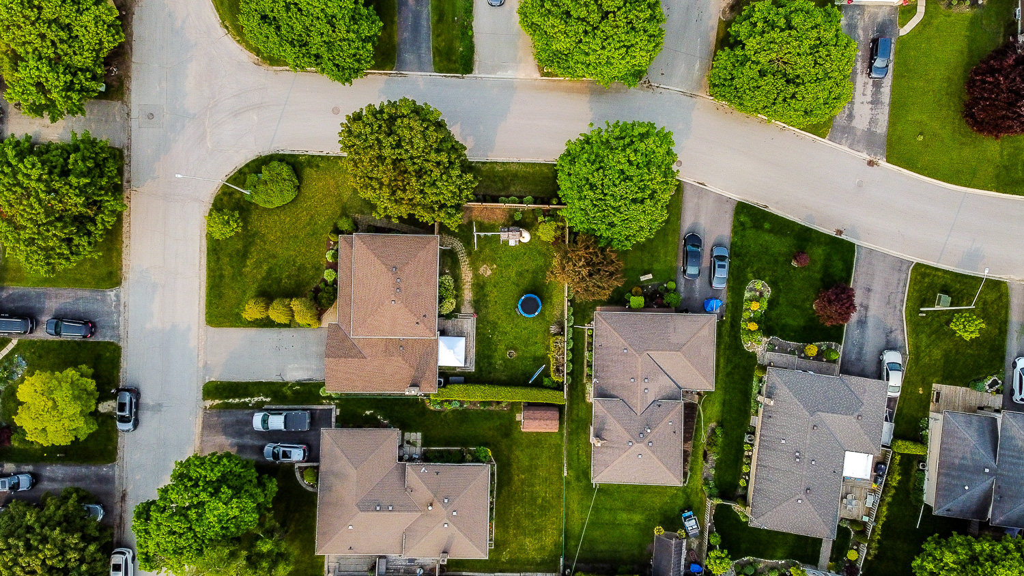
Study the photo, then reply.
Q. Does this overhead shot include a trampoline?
Yes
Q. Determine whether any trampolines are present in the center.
Yes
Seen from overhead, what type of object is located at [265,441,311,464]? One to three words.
car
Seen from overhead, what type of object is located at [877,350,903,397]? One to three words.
car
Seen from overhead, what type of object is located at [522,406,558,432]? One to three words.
shed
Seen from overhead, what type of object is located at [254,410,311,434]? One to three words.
truck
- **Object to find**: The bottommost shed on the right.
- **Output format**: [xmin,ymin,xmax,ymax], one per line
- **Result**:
[651,531,686,576]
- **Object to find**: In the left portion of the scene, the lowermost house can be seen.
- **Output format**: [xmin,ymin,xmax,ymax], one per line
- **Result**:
[315,427,490,565]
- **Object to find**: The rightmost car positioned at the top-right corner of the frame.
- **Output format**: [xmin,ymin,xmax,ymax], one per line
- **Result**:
[865,34,891,81]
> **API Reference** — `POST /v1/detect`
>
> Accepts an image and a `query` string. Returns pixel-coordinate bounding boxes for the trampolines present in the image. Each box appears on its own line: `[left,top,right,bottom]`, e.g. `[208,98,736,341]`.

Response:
[516,293,542,318]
